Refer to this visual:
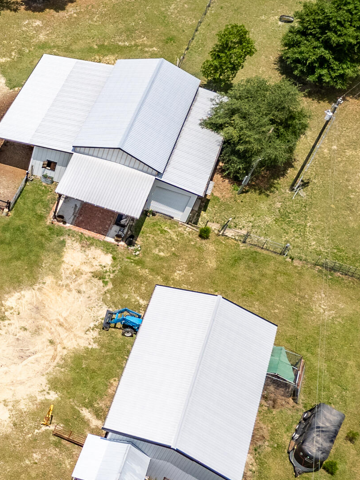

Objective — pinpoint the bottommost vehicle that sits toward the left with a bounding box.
[98,313,143,342]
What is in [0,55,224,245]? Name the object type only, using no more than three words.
barn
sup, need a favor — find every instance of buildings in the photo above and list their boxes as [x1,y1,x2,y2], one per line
[101,284,278,480]
[0,55,224,245]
